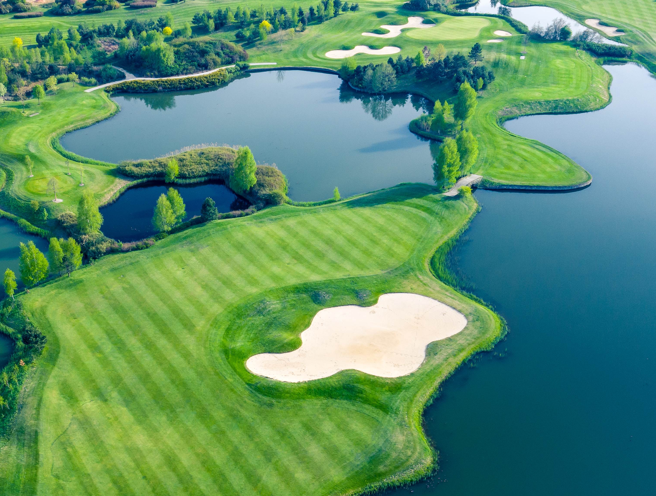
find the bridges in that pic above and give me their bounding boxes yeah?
[438,170,485,200]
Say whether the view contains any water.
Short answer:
Yes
